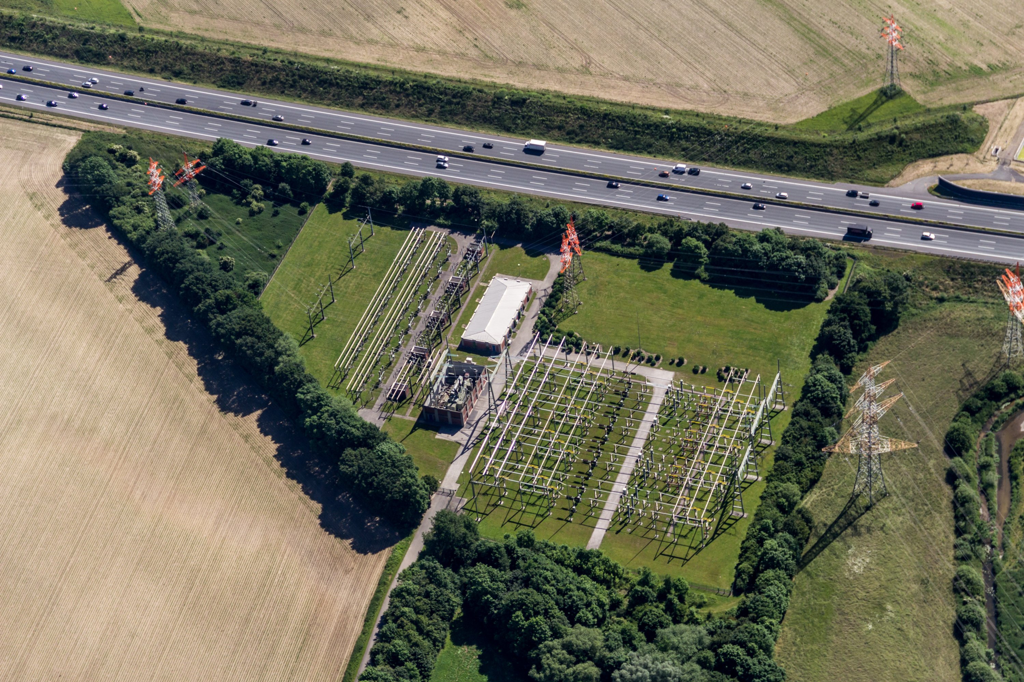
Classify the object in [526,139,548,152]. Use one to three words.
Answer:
vehicle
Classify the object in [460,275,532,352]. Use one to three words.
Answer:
building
